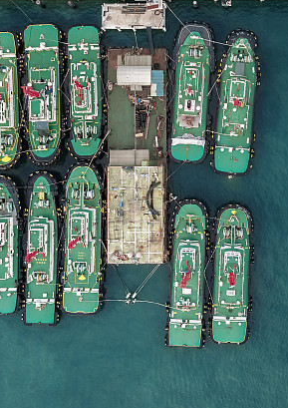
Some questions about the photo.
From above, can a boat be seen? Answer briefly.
Yes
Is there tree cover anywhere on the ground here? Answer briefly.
No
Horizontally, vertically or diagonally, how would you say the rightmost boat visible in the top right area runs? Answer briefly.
vertically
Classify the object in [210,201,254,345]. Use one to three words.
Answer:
boat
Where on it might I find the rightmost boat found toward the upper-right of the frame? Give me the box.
[213,27,261,179]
